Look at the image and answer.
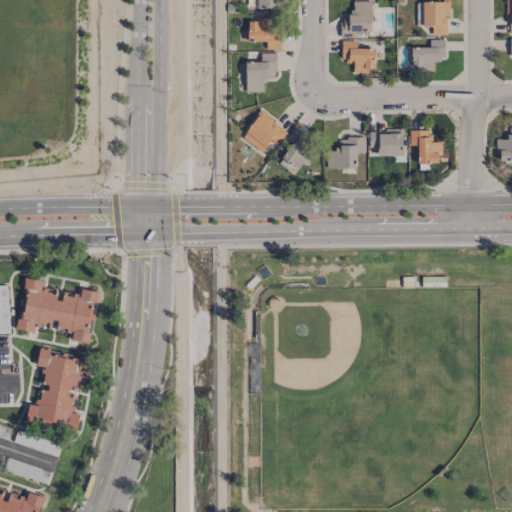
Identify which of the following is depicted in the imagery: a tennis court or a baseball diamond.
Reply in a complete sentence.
The image shows a baseball diamond.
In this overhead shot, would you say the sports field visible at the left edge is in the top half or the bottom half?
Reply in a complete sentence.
The sports field visible at the left edge is in the top half of the image.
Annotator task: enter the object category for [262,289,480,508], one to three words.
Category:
baseball field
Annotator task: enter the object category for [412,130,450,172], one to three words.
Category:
house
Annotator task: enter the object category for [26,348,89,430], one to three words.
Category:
building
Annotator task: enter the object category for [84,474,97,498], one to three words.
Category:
vehicle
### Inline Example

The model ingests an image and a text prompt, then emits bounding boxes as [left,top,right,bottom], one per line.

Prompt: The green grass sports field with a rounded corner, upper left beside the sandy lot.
[0,0,79,161]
